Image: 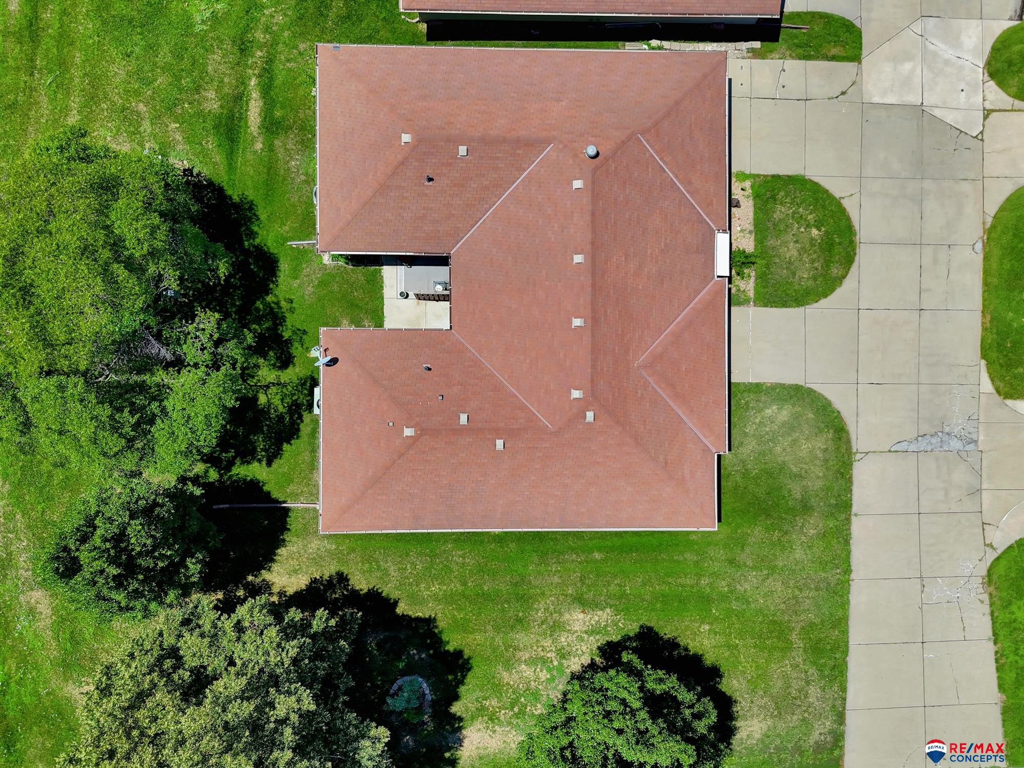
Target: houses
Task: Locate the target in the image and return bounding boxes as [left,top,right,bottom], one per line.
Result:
[316,44,728,534]
[399,0,781,26]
